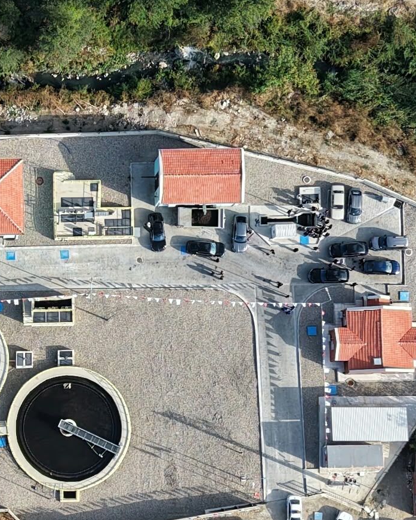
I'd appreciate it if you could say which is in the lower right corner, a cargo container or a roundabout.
cargo container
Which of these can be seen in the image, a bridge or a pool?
bridge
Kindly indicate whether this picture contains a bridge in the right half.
No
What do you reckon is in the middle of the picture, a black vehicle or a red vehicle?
black vehicle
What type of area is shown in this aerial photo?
industrial area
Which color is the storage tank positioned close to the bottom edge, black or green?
black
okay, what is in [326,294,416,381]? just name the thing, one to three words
building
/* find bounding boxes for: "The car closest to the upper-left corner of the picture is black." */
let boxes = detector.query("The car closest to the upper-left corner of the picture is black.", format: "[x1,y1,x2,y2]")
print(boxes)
[147,212,168,253]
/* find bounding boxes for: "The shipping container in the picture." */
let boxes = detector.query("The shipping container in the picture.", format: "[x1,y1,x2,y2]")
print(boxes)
[319,445,390,473]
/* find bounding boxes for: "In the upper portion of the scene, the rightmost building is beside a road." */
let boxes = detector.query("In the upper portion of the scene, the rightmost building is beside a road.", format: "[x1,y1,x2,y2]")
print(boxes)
[151,148,248,216]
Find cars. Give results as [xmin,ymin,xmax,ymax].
[368,233,409,251]
[336,510,354,520]
[185,240,225,257]
[361,258,400,275]
[308,266,349,284]
[329,240,369,258]
[147,212,168,253]
[231,215,251,253]
[345,187,365,224]
[329,186,347,220]
[285,496,305,520]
